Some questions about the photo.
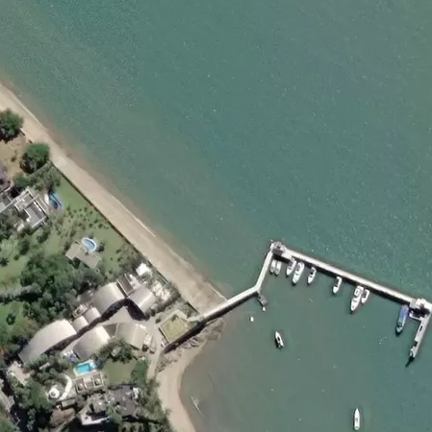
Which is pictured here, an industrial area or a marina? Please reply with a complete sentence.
The area seen from above is a marina.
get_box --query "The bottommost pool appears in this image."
[73,360,96,377]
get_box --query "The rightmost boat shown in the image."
[397,305,409,333]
